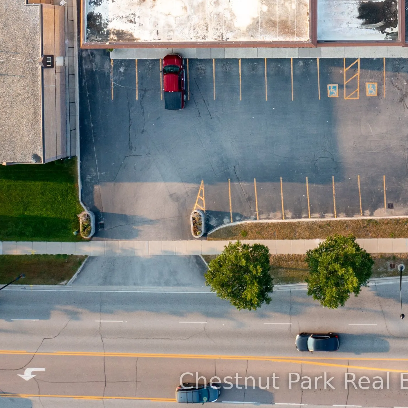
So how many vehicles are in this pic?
3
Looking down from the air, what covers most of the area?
paved ground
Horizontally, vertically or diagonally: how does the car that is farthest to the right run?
horizontally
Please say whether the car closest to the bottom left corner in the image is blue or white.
blue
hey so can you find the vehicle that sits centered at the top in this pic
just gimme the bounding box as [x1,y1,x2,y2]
[161,53,186,110]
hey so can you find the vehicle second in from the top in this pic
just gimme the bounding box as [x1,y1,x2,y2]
[294,332,341,355]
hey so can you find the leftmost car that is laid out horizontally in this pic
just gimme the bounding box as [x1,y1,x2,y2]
[174,382,223,406]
